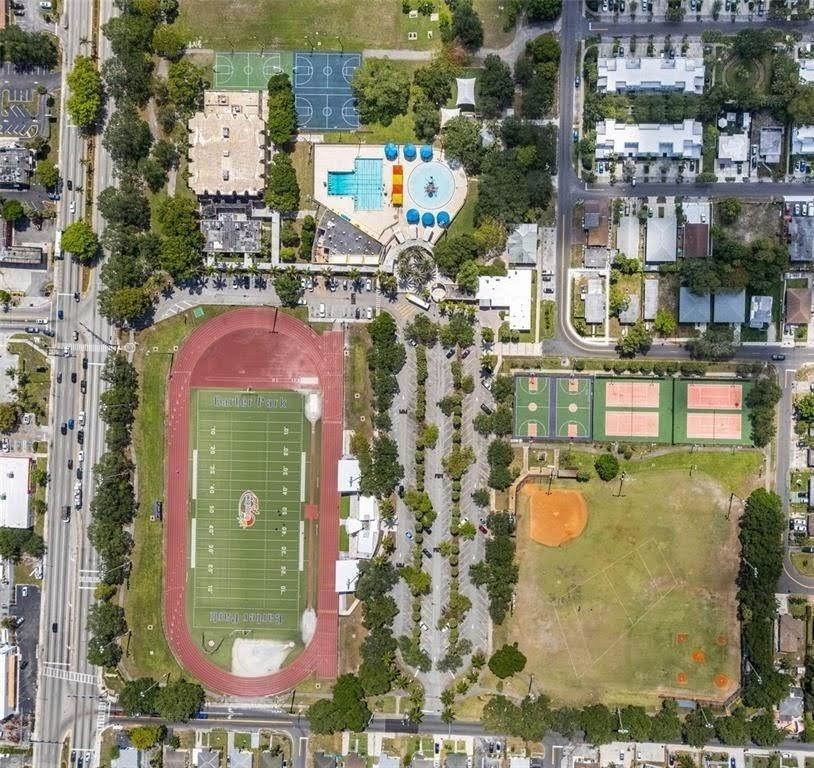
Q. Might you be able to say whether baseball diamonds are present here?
Yes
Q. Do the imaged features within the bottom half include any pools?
No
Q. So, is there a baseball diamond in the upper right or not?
No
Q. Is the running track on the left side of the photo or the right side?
left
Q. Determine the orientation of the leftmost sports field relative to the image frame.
vertically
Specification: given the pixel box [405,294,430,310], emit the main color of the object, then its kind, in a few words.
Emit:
white vehicle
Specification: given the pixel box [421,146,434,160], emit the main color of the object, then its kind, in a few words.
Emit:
blue umbrella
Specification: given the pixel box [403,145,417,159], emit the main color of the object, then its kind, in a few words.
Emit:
blue umbrella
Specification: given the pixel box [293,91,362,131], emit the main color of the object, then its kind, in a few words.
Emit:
blue basketball court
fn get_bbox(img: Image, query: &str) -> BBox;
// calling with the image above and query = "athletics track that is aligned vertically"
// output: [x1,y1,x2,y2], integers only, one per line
[163,307,342,697]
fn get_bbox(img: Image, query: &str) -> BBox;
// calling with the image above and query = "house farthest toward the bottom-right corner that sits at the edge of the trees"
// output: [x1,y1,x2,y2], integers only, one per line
[777,693,803,716]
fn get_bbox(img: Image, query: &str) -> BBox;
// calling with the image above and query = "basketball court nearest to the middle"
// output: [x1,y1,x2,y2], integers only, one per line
[514,374,553,441]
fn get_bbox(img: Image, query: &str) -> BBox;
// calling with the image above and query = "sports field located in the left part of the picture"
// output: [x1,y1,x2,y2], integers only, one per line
[184,390,322,677]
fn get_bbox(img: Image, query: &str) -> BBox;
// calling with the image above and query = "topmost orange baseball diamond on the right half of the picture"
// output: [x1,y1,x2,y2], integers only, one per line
[519,483,589,548]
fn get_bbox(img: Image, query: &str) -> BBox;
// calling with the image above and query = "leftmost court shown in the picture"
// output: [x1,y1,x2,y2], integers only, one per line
[211,51,293,90]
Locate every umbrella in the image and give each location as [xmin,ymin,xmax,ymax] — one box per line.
[436,212,451,226]
[407,210,420,223]
[421,146,434,160]
[385,144,398,158]
[421,212,435,226]
[403,145,417,159]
